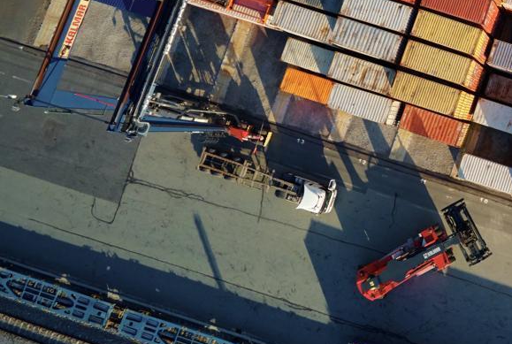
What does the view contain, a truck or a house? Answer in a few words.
truck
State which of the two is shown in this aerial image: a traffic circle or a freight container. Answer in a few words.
freight container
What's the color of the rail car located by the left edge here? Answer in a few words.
blue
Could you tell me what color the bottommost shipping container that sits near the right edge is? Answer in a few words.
white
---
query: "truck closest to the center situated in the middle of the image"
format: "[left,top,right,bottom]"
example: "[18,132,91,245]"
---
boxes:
[194,150,342,217]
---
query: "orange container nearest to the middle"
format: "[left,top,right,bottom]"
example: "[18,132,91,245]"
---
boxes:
[273,65,345,104]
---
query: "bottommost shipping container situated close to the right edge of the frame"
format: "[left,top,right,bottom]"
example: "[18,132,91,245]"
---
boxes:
[457,153,512,195]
